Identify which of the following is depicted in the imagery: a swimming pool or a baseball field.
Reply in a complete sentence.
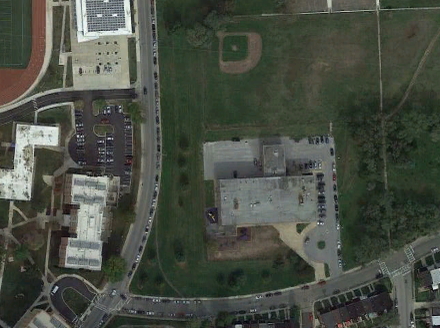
There is a baseball field in the scene.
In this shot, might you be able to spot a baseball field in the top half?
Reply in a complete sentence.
Yes, in the top half there is a baseball field.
